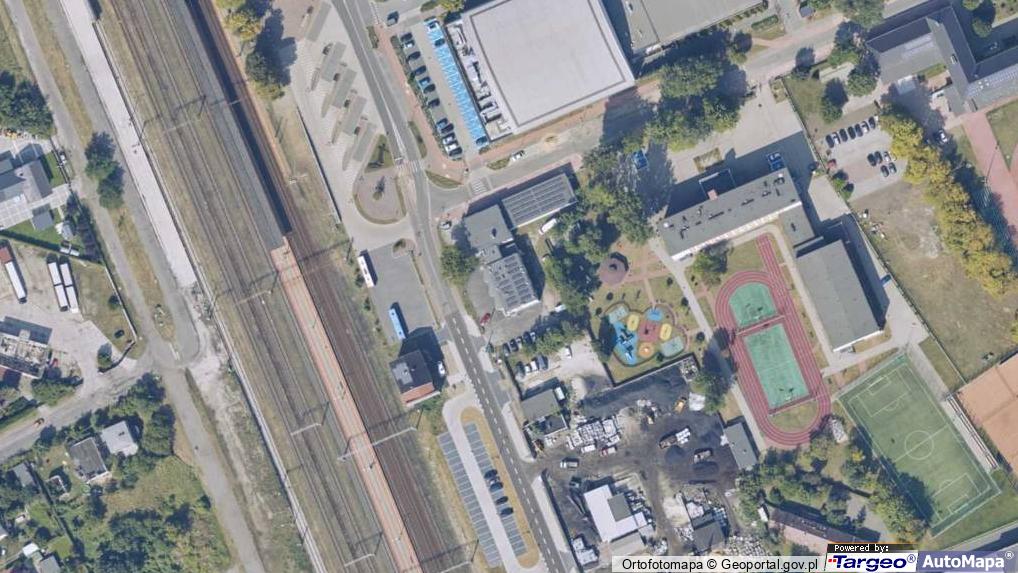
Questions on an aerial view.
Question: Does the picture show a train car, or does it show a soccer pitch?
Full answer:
I can see a soccer pitch in this picture.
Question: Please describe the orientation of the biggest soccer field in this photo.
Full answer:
The biggest soccer field runs diagonally in the image.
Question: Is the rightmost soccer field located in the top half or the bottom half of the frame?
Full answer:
It is in the bottom half that the rightmost soccer field appears.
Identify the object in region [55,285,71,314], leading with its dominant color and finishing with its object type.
white vehicle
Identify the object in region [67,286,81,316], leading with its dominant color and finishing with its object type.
white vehicle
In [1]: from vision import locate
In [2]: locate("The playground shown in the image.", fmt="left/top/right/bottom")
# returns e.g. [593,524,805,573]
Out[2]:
[603,301,688,367]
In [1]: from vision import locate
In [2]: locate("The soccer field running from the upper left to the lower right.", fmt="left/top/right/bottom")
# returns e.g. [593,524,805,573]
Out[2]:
[838,352,1001,536]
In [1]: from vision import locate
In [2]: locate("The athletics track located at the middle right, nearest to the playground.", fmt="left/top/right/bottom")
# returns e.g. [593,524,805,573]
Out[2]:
[719,238,829,450]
